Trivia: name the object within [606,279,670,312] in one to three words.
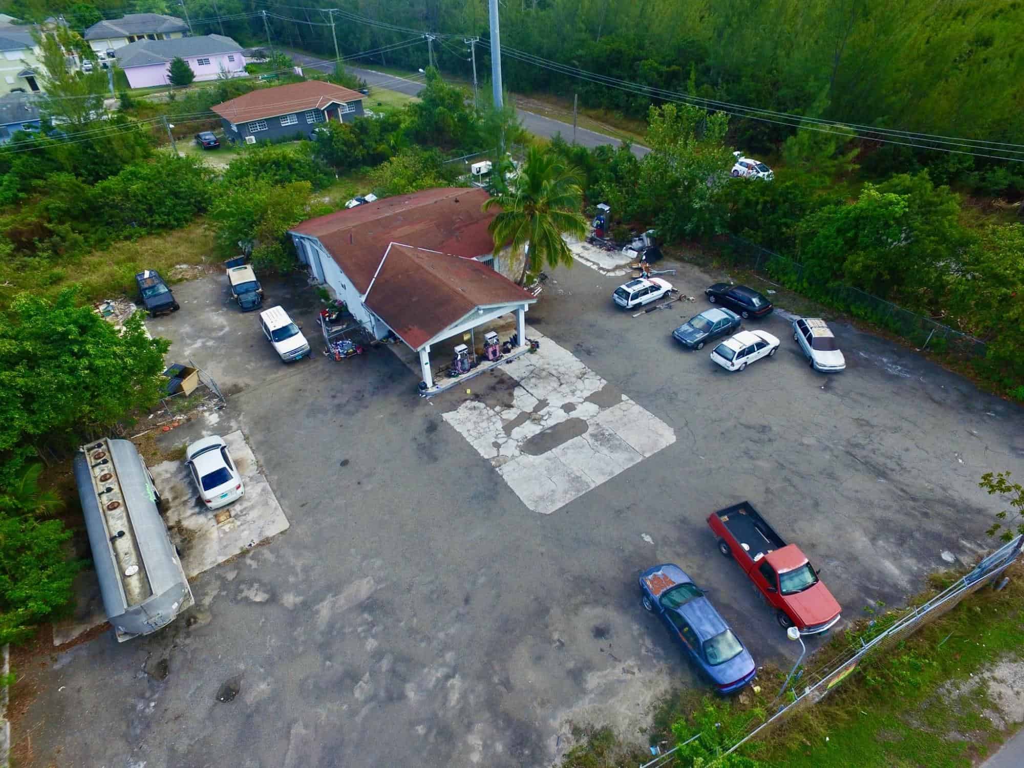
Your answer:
car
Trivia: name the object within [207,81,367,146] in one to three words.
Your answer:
house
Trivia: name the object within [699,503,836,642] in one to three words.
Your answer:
truck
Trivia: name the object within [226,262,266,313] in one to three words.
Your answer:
car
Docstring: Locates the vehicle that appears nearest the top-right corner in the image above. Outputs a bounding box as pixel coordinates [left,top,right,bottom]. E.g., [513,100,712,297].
[726,151,769,180]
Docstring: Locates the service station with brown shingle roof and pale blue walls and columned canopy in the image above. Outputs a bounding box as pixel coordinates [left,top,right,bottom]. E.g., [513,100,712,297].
[287,187,538,398]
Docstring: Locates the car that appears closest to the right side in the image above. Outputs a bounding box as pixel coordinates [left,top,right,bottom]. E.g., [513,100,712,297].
[792,314,848,374]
